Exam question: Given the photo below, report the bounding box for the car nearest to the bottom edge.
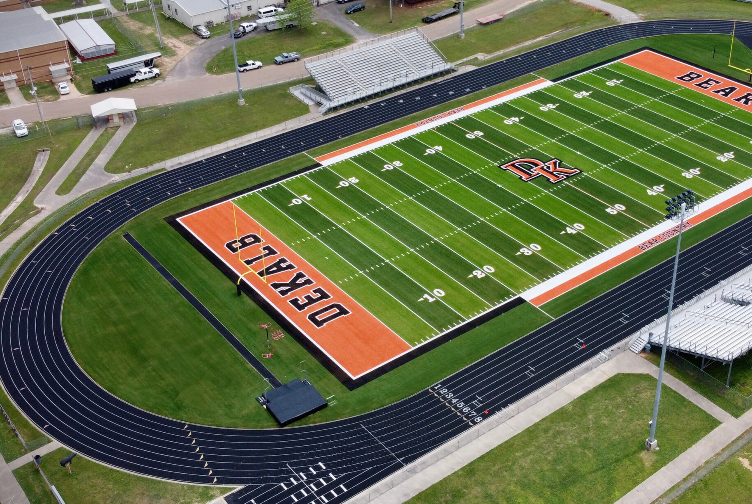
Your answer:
[13,117,27,133]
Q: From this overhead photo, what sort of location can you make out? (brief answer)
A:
sports ground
